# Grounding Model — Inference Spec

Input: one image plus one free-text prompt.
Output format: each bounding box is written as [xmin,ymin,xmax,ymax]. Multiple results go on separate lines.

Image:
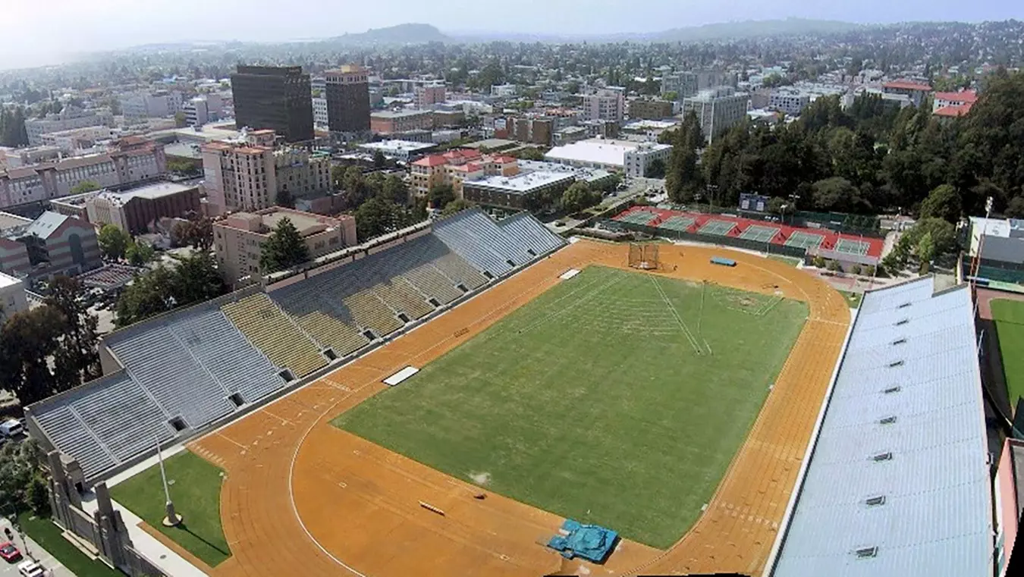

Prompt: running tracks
[185,240,851,577]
